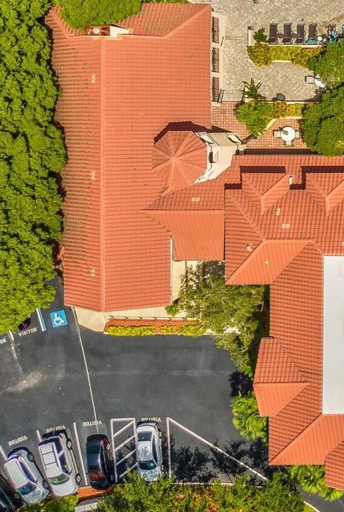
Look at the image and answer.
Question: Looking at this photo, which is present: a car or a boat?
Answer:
car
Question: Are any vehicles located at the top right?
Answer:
No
